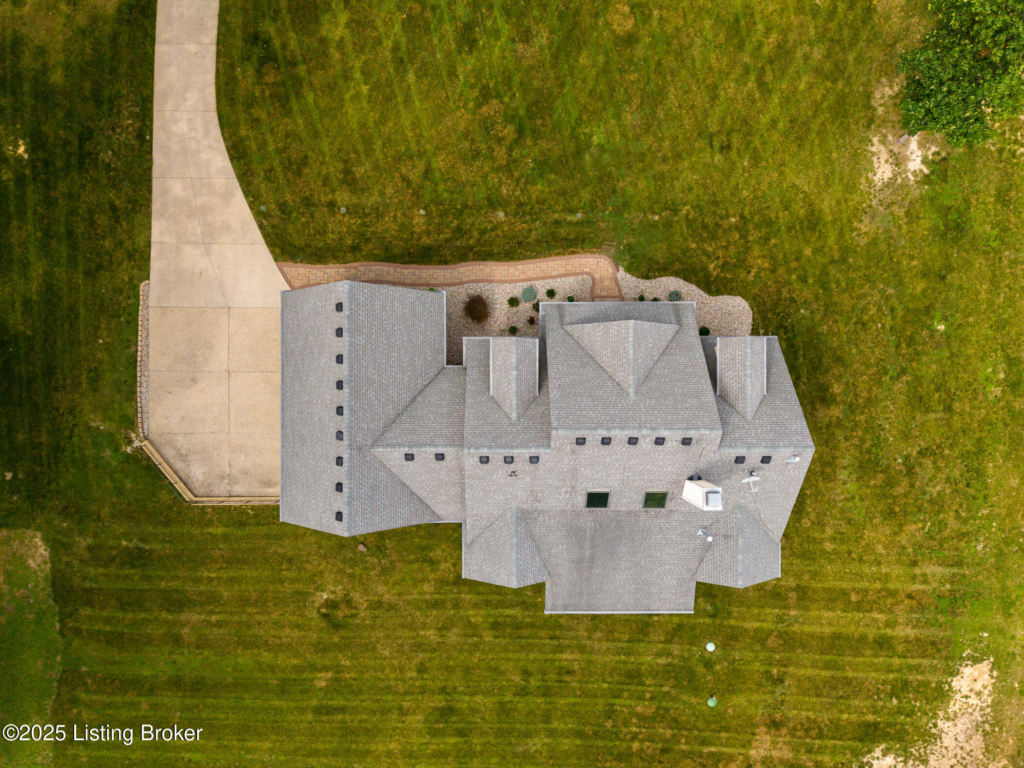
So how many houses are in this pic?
1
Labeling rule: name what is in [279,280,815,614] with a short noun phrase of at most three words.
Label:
house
